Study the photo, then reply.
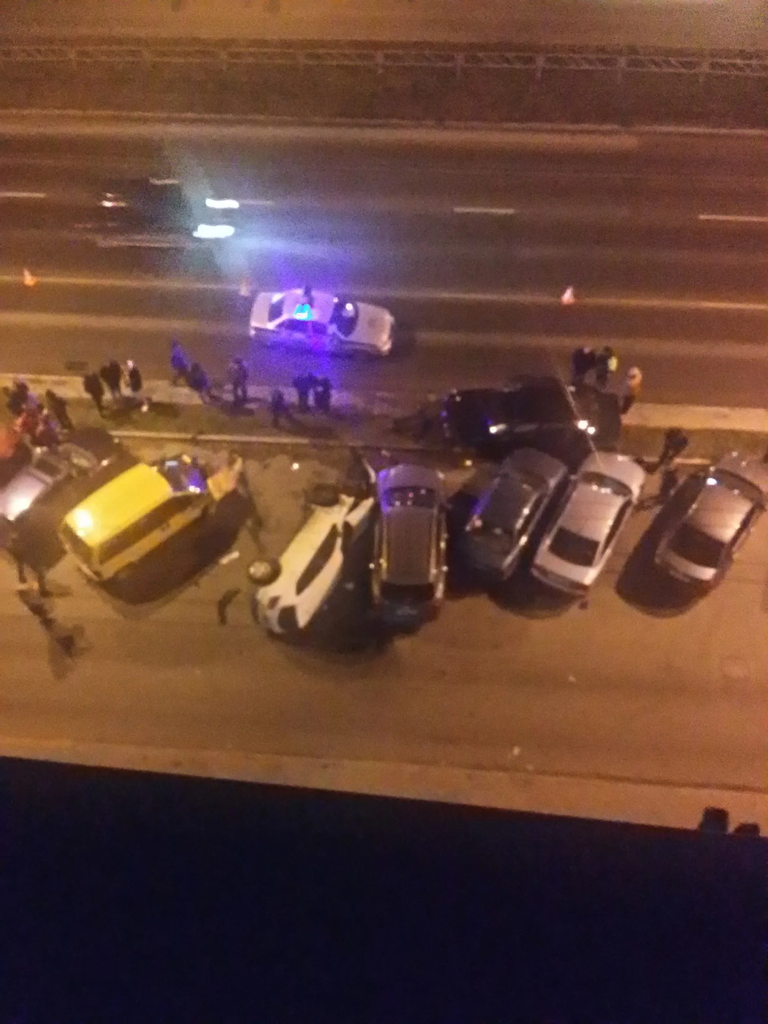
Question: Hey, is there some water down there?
No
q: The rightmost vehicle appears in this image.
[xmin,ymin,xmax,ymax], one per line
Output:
[656,451,768,593]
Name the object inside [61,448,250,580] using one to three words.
van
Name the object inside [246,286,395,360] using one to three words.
car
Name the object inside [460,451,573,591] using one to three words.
car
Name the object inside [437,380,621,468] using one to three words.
truck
